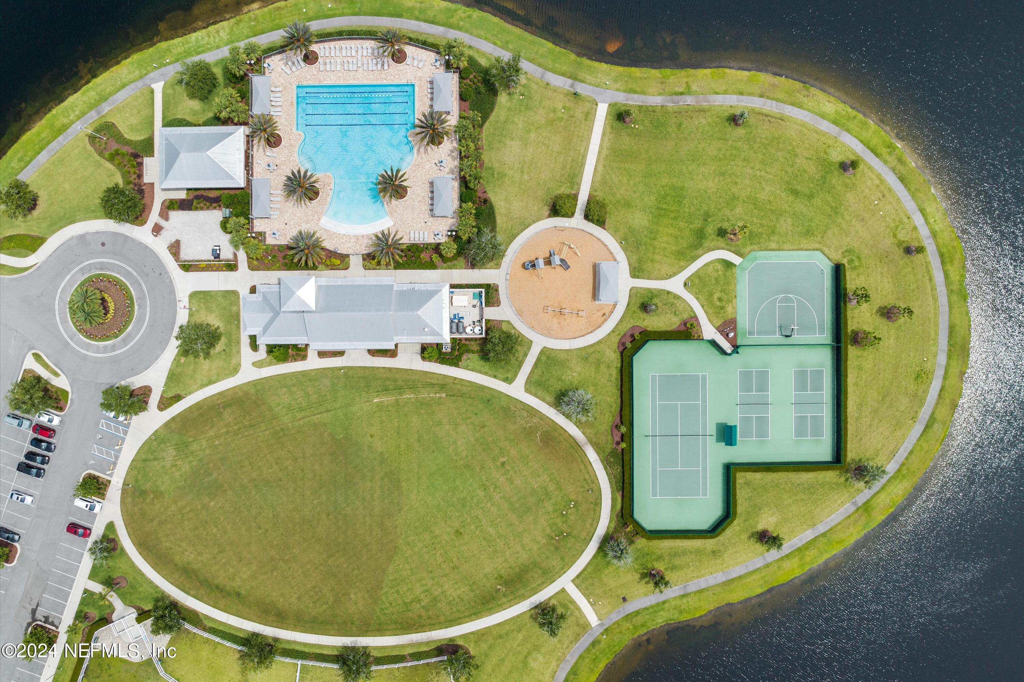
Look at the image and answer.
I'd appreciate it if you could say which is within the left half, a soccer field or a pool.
pool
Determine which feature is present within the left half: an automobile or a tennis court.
automobile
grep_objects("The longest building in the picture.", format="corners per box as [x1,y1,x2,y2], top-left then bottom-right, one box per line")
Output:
[243,276,450,352]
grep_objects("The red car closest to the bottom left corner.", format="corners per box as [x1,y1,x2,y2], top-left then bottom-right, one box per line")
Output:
[65,522,94,538]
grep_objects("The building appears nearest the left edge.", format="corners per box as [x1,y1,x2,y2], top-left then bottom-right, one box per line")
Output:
[159,125,249,191]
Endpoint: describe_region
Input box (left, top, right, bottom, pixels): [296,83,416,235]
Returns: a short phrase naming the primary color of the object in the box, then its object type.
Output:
blue swimming pool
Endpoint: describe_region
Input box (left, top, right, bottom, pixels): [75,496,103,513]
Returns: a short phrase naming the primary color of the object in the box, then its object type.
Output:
white car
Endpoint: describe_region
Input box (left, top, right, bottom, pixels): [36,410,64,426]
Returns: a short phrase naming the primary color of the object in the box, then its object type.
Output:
white car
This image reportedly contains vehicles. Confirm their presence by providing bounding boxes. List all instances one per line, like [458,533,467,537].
[209,244,221,259]
[65,522,94,538]
[75,496,103,513]
[33,423,59,439]
[15,460,48,479]
[12,401,40,416]
[8,489,37,505]
[2,412,34,430]
[31,436,58,452]
[36,410,64,426]
[0,526,23,542]
[23,449,52,466]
